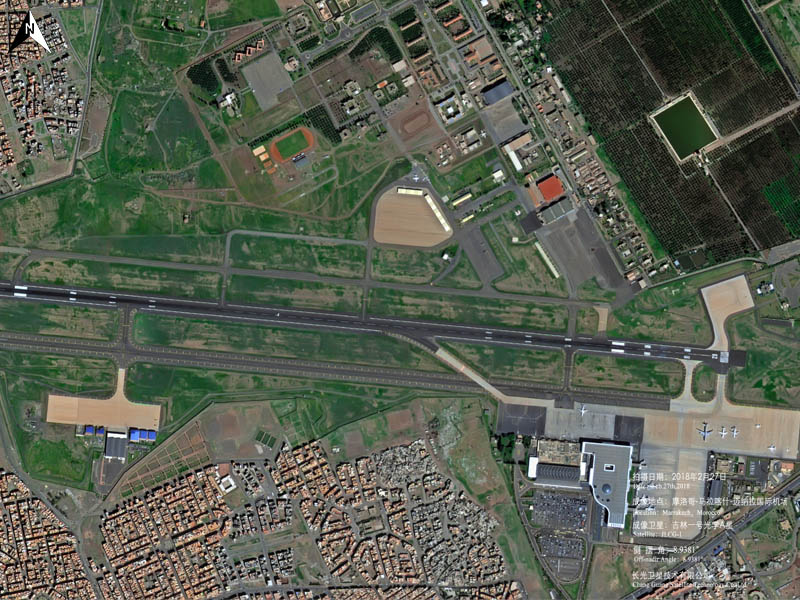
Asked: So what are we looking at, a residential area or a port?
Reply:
residential area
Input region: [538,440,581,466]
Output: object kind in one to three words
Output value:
building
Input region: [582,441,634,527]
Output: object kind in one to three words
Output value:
building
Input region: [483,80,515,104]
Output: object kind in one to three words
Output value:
hangar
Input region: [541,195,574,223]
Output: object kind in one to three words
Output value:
hangar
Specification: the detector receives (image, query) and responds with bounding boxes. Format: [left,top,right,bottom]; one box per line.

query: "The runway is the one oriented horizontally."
[0,280,730,366]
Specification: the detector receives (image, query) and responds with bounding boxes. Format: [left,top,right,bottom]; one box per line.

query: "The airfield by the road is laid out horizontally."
[0,162,800,545]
